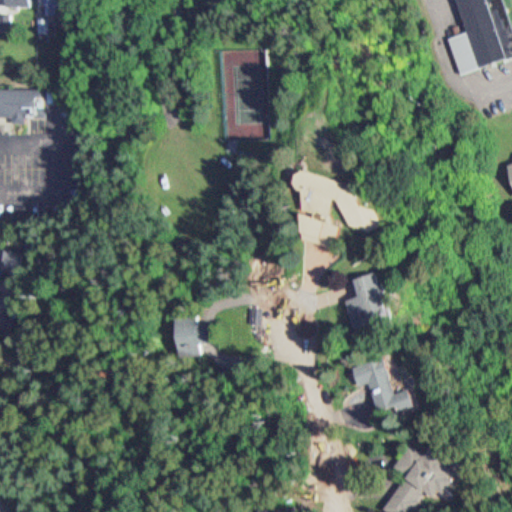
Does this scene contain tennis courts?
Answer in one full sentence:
Yes, a tennis court appears in the view.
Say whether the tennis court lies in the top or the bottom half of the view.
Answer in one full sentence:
The top half of the photo is where the tennis court is.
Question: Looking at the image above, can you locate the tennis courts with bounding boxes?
[222,50,270,138]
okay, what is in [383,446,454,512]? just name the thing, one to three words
house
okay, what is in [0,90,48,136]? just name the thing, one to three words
house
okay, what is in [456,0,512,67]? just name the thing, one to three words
building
